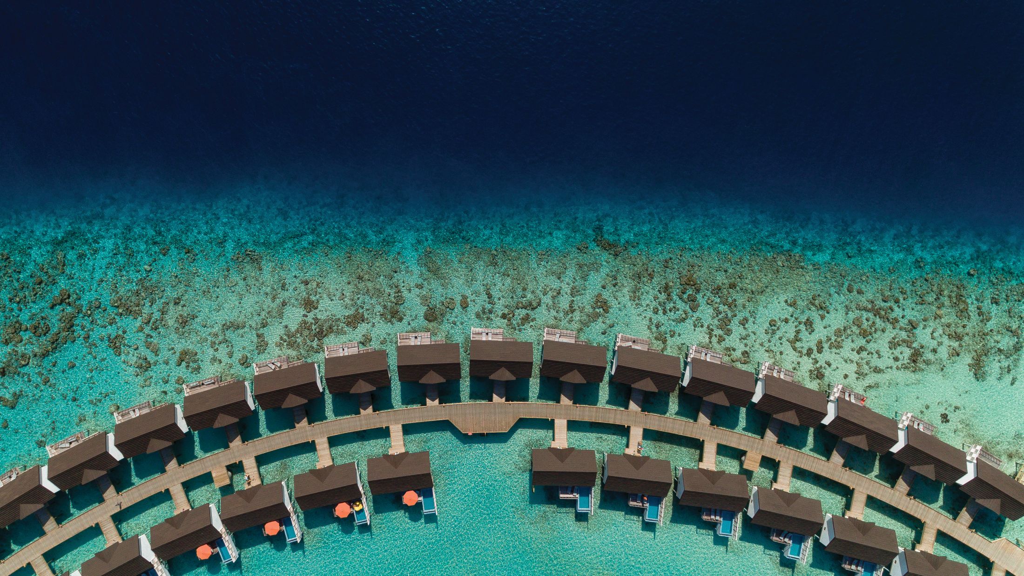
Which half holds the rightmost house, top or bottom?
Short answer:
bottom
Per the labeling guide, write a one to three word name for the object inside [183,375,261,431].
house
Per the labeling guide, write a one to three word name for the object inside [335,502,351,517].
umbrella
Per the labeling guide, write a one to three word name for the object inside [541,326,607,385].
house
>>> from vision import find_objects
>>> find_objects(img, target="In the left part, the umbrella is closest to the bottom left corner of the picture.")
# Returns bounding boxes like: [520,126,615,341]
[197,544,212,559]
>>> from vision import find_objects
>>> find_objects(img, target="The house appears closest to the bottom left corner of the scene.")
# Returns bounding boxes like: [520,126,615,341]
[0,462,64,529]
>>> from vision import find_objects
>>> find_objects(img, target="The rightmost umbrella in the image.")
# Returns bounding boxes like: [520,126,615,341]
[403,491,418,506]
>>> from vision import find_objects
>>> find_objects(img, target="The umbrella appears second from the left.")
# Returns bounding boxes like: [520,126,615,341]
[265,521,280,536]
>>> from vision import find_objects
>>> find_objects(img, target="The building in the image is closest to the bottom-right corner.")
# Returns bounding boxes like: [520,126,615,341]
[953,442,1024,522]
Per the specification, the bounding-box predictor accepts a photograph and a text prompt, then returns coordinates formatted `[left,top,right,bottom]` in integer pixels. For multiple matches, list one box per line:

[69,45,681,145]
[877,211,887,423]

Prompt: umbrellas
[197,544,212,559]
[403,491,418,506]
[335,502,351,517]
[265,521,280,536]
